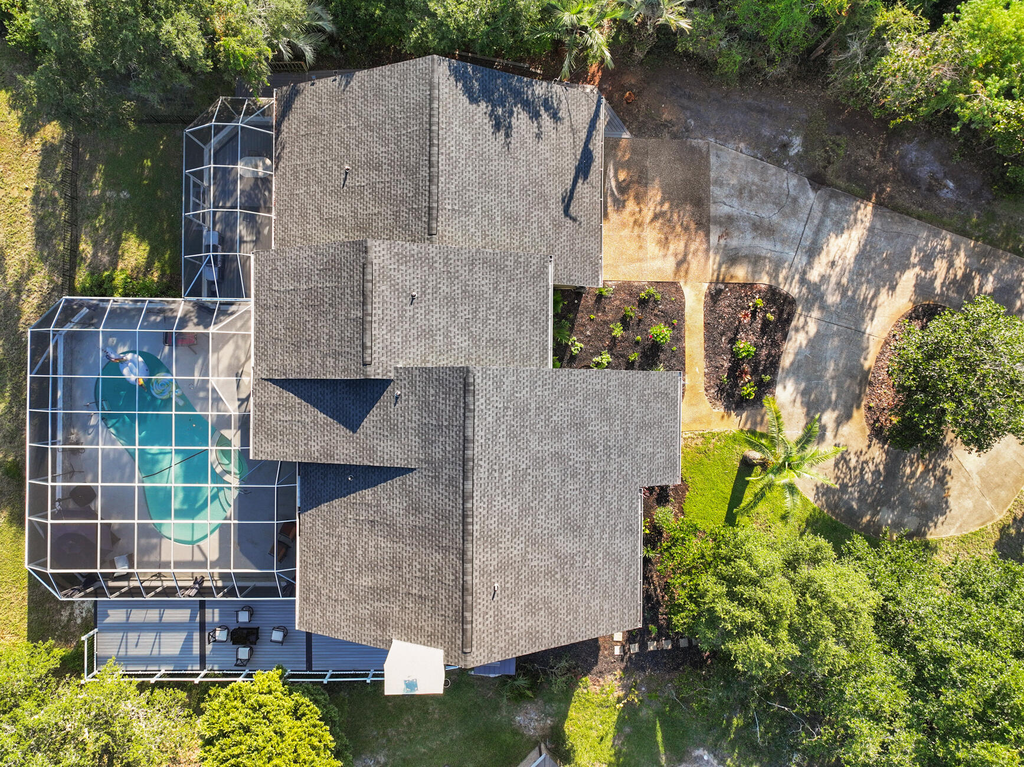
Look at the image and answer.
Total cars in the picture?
zero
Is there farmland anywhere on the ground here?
No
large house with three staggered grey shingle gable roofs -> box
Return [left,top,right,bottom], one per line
[249,54,684,696]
